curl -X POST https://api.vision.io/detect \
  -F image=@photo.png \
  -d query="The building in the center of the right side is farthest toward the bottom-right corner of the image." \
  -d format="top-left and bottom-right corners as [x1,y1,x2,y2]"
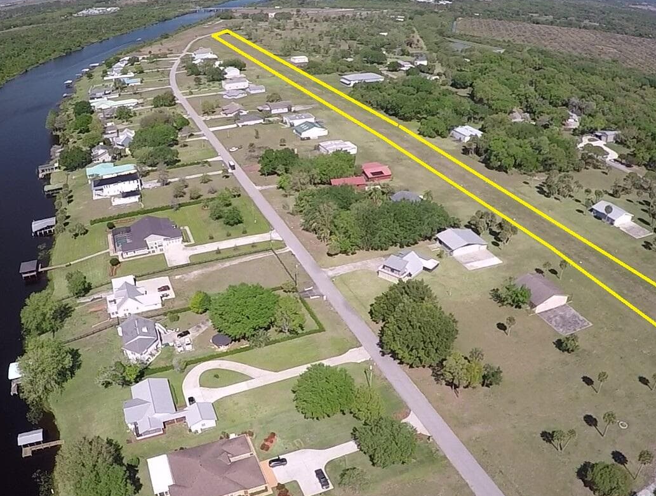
[508,274,570,318]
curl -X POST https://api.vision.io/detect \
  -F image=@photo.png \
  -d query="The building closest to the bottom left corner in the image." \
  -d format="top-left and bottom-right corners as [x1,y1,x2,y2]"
[17,428,45,452]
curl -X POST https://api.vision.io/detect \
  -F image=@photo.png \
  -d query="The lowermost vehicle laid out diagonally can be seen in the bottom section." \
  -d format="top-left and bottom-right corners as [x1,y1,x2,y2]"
[312,467,332,489]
